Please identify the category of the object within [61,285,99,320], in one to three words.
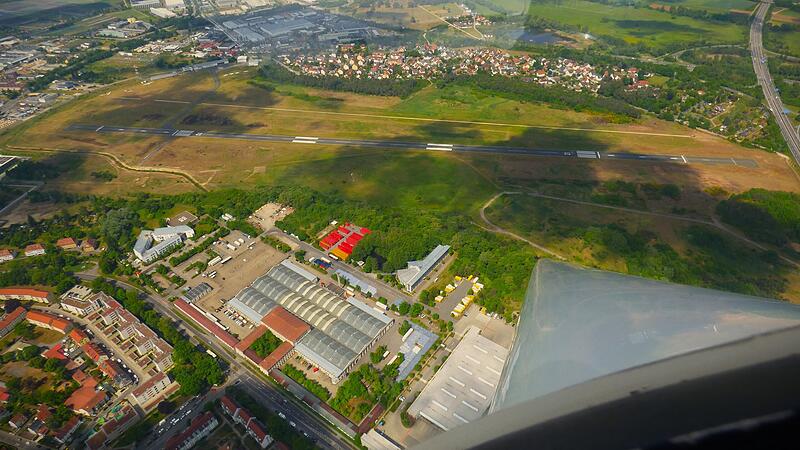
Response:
building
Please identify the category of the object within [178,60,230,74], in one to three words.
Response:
hangar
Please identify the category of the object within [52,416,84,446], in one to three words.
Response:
house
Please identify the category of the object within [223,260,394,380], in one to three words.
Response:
building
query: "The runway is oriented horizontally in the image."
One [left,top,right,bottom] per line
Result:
[61,124,760,166]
